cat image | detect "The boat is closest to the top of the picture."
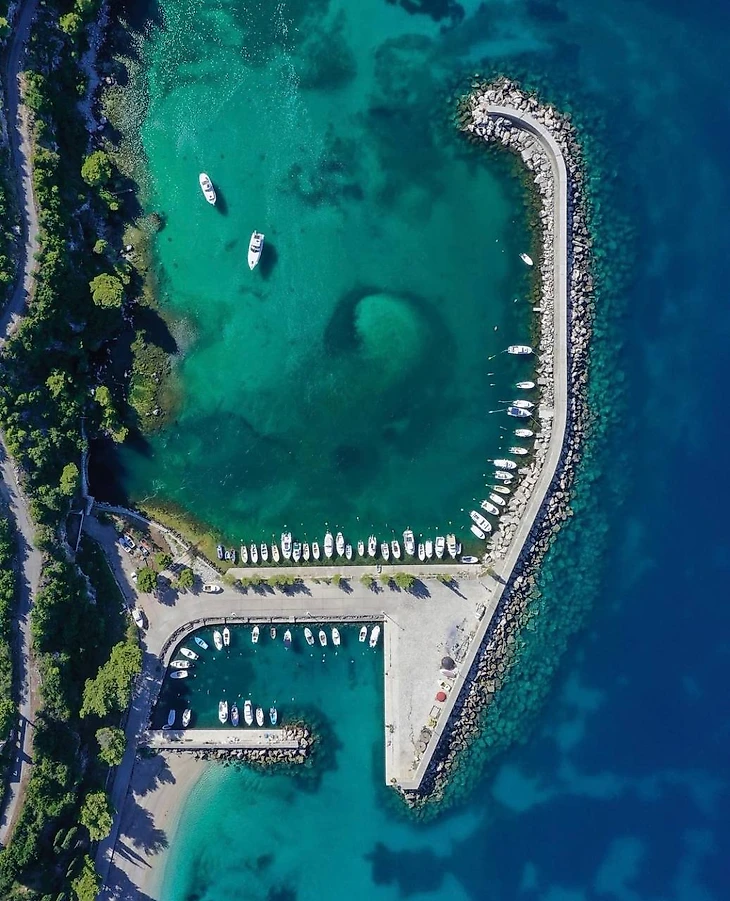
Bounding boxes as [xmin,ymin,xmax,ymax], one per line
[197,170,215,203]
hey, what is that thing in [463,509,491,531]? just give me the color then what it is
white boat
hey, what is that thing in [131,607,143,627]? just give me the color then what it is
white boat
